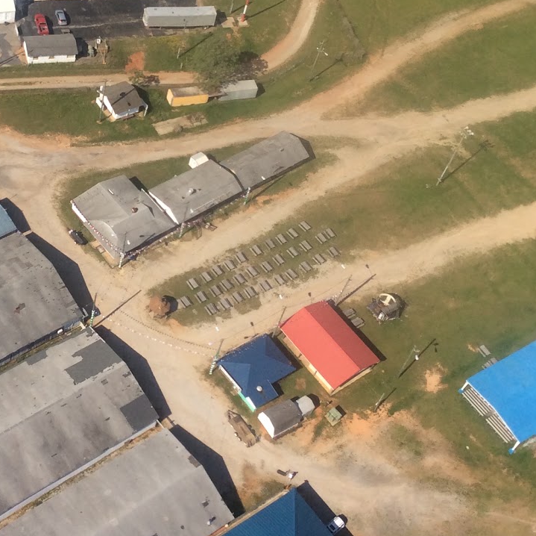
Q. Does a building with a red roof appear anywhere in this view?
Yes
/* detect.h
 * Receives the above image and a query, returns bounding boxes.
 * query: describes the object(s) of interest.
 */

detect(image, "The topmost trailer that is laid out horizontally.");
[143,11,217,39]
